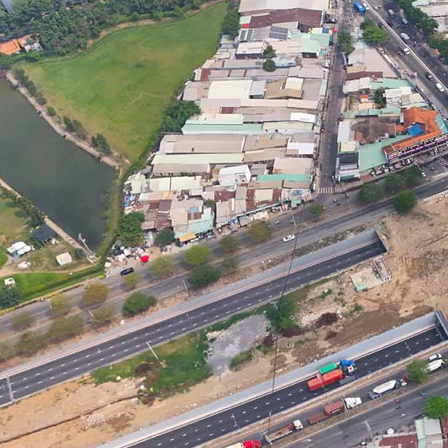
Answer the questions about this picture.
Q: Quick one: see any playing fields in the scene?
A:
Yes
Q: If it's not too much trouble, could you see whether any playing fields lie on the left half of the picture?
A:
Yes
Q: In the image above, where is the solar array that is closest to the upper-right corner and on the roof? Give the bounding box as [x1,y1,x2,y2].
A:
[270,26,289,40]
